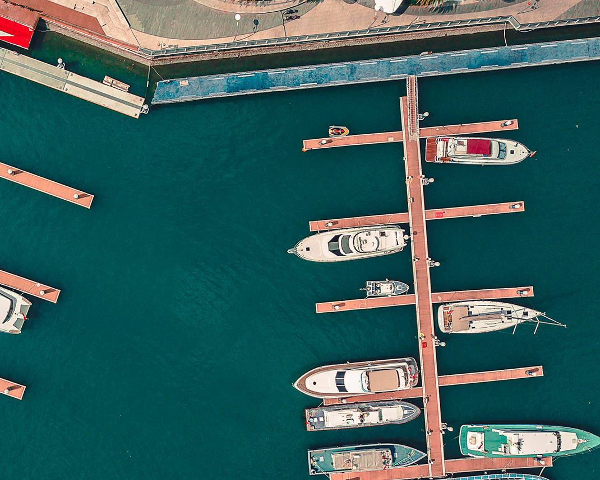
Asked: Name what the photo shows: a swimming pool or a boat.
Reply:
boat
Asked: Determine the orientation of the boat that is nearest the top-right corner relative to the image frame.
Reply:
horizontally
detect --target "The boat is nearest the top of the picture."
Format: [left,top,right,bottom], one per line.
[328,124,350,138]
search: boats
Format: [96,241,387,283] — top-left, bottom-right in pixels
[293,356,419,398]
[305,401,420,431]
[359,278,410,296]
[0,286,32,333]
[425,135,536,166]
[456,423,600,458]
[328,124,350,138]
[287,225,409,263]
[437,300,565,333]
[307,442,427,475]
